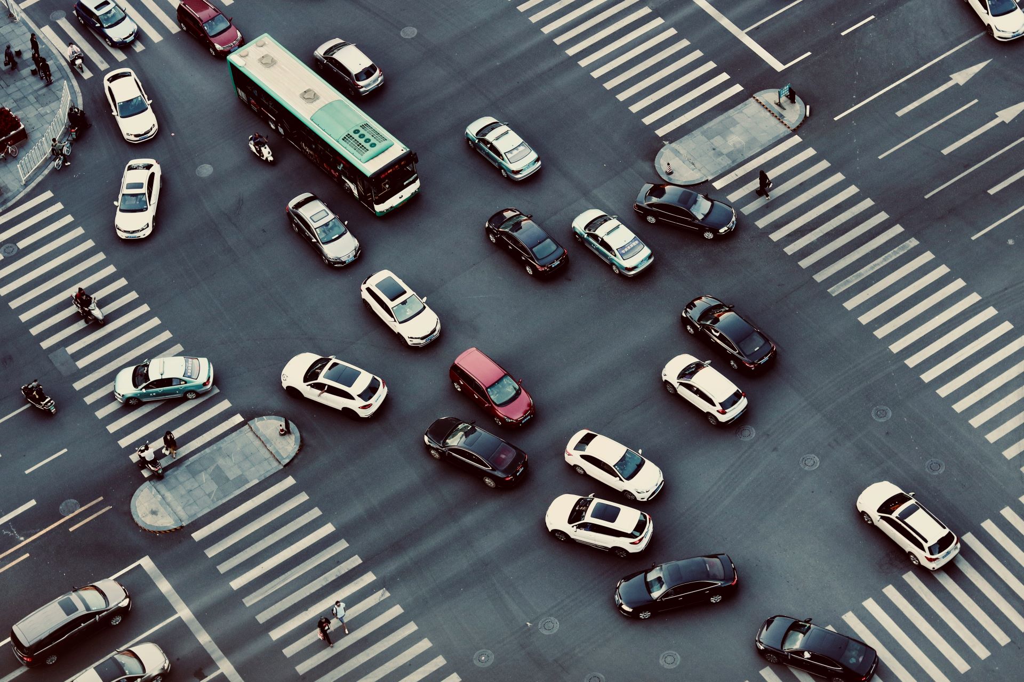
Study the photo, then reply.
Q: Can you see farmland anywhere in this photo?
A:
No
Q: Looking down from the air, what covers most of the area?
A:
paved ground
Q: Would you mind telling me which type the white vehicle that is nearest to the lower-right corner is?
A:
automobile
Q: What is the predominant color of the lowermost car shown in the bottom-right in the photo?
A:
black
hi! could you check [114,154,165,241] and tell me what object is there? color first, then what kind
white car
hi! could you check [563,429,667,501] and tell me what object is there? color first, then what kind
white car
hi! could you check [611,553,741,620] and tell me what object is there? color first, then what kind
black car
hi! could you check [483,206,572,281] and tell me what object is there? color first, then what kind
black car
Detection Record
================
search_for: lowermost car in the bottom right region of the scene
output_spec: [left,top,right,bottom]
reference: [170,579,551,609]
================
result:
[751,615,881,682]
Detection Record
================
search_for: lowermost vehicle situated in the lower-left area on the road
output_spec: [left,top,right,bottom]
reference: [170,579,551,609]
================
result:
[68,639,173,682]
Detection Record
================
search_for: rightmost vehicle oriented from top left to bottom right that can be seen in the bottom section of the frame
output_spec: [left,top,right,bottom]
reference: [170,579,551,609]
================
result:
[856,481,962,573]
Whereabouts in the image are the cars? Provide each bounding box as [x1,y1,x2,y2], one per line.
[464,115,541,182]
[572,208,655,279]
[856,481,962,573]
[358,269,441,348]
[114,154,165,241]
[483,206,572,281]
[964,0,1024,43]
[315,38,385,98]
[172,0,246,58]
[69,0,141,47]
[631,181,740,240]
[282,352,390,419]
[661,355,752,427]
[7,579,134,670]
[284,189,364,270]
[611,553,741,620]
[446,345,536,429]
[421,417,531,489]
[105,68,159,146]
[68,639,173,682]
[751,615,881,682]
[563,429,667,501]
[680,296,778,376]
[542,491,655,558]
[110,356,217,406]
